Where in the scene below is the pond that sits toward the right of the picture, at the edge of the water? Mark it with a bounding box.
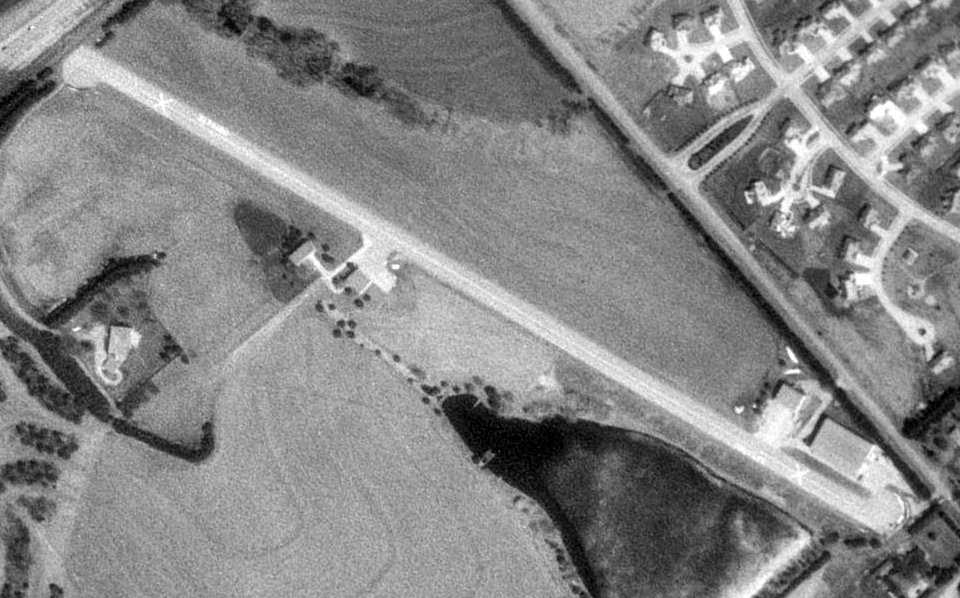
[445,395,809,598]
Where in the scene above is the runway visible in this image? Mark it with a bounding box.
[66,48,903,529]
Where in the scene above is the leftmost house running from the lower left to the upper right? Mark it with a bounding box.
[288,240,317,266]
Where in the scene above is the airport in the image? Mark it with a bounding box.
[66,48,922,529]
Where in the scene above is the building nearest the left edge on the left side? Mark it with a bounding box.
[106,324,131,371]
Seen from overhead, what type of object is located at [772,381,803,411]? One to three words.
hangar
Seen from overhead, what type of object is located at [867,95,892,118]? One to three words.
house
